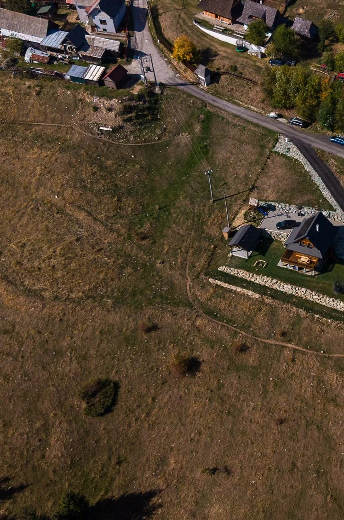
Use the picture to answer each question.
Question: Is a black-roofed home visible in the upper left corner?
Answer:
Yes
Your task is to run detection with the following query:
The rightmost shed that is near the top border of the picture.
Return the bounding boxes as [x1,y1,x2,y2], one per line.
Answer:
[291,16,316,44]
